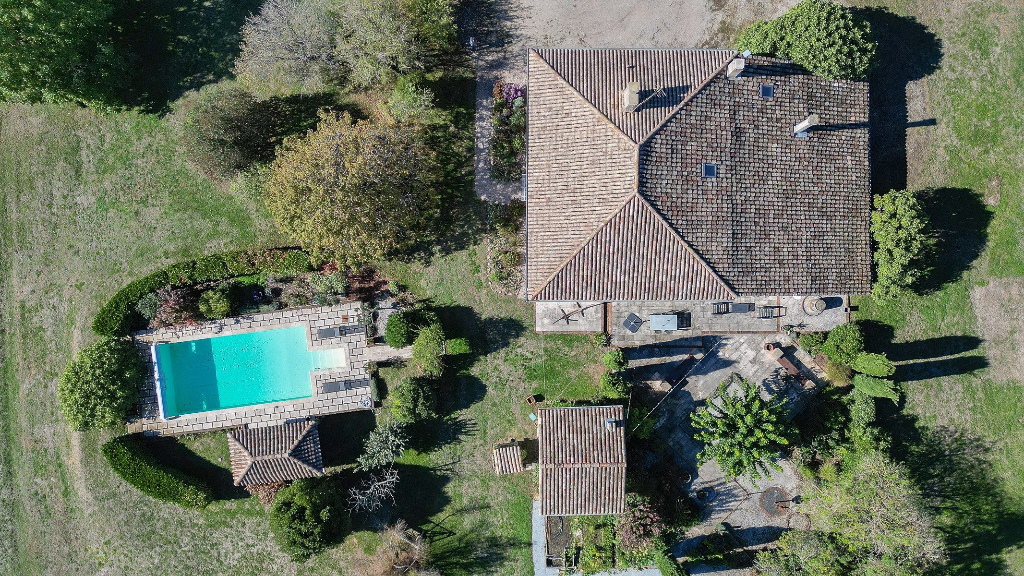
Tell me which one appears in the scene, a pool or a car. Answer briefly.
pool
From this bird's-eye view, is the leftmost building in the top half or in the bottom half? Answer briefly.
bottom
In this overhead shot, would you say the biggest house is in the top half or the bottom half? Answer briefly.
top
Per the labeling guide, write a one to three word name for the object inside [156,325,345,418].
swimming pool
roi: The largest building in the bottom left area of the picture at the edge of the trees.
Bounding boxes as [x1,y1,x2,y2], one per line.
[225,419,328,488]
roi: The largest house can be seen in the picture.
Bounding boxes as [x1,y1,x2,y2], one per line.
[521,46,872,303]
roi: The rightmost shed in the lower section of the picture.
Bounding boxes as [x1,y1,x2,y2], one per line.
[536,404,630,519]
